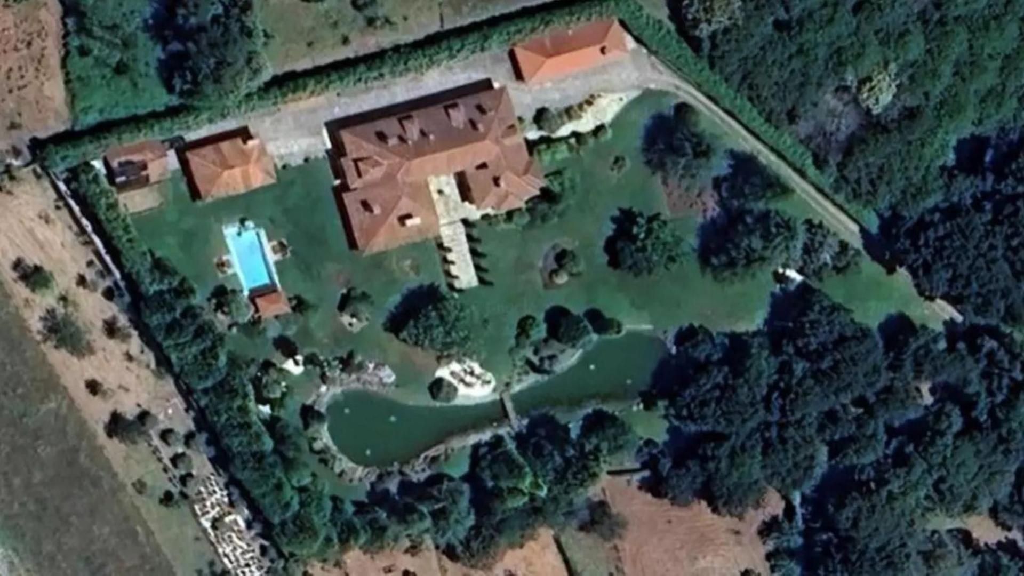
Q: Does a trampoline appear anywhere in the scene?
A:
No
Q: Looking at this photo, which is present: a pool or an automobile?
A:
pool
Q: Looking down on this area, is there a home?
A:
Yes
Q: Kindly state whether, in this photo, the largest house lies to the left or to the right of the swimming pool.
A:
on the right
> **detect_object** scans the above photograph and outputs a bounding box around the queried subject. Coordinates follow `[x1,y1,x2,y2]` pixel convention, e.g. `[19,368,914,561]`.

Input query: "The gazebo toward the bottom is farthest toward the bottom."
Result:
[426,373,455,401]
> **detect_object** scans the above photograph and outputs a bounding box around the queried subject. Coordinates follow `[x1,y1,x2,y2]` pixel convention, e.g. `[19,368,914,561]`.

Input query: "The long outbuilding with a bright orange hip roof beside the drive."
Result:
[512,19,631,83]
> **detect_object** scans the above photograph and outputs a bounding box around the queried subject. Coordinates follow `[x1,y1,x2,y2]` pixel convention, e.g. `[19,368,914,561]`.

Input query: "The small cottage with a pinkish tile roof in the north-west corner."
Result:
[104,140,171,187]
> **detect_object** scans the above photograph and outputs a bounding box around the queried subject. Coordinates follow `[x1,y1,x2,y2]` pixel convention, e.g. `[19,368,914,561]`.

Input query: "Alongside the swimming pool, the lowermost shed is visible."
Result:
[253,291,291,319]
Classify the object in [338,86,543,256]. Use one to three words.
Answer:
house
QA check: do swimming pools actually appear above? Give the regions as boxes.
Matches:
[222,224,283,296]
